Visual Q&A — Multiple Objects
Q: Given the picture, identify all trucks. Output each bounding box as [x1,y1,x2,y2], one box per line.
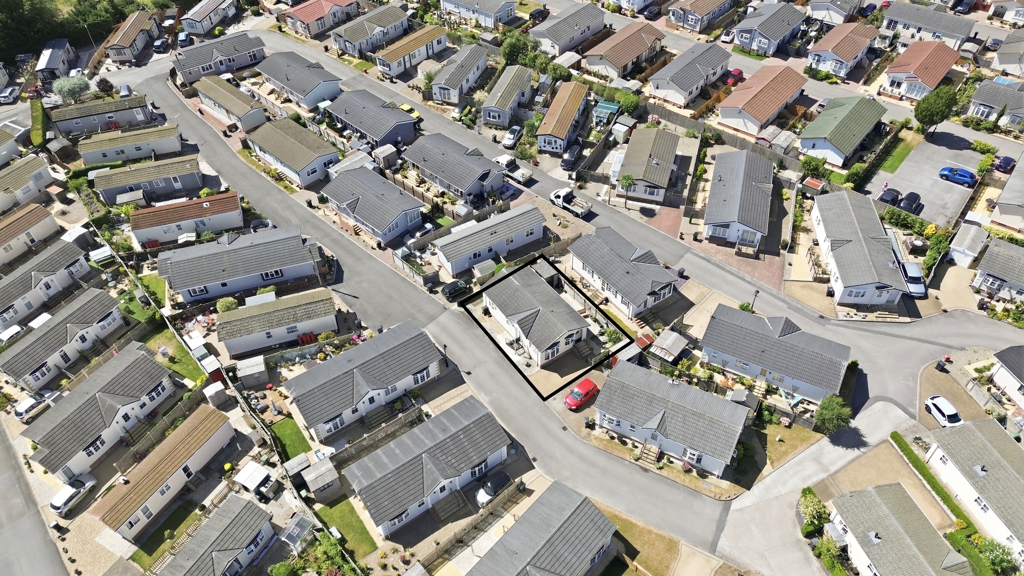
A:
[494,152,534,180]
[548,191,594,220]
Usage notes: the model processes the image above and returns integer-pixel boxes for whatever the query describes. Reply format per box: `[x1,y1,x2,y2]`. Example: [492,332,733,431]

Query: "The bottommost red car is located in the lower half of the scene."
[563,378,599,412]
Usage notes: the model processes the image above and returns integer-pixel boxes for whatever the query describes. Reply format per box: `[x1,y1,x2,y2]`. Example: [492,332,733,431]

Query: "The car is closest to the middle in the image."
[439,281,475,306]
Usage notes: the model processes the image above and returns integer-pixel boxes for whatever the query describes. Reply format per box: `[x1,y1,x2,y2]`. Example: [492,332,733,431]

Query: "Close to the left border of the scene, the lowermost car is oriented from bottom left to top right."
[48,476,98,517]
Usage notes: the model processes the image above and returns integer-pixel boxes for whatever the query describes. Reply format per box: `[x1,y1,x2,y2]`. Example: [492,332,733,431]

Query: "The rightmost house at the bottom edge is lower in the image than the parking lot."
[924,415,1024,562]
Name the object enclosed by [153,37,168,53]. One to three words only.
car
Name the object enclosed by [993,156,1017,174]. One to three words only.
car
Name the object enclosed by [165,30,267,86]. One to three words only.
house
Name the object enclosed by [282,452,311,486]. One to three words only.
shed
